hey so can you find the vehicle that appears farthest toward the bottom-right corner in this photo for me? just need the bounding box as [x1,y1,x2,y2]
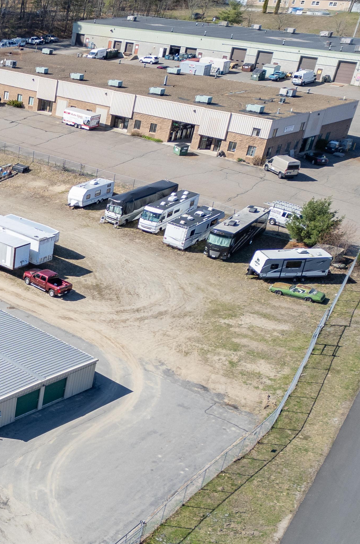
[270,283,323,302]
